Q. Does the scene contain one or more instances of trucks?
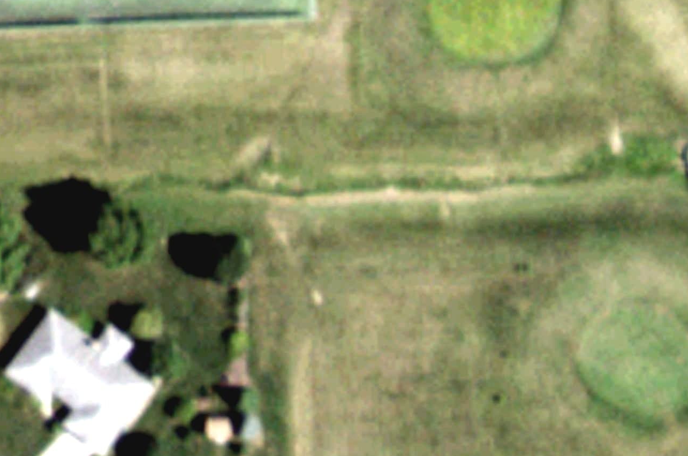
No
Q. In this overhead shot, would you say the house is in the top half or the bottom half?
bottom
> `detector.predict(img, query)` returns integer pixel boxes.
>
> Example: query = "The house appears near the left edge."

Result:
[5,311,155,456]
